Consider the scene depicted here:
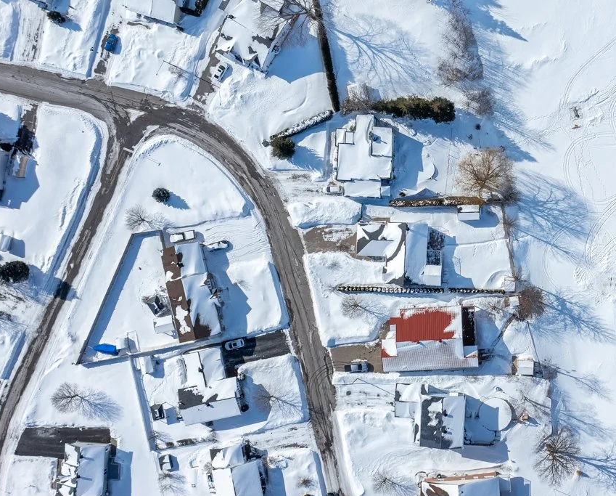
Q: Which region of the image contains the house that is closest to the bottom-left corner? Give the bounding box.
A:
[53,437,124,496]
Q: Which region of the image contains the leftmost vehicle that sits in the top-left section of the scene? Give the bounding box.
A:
[103,33,116,52]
